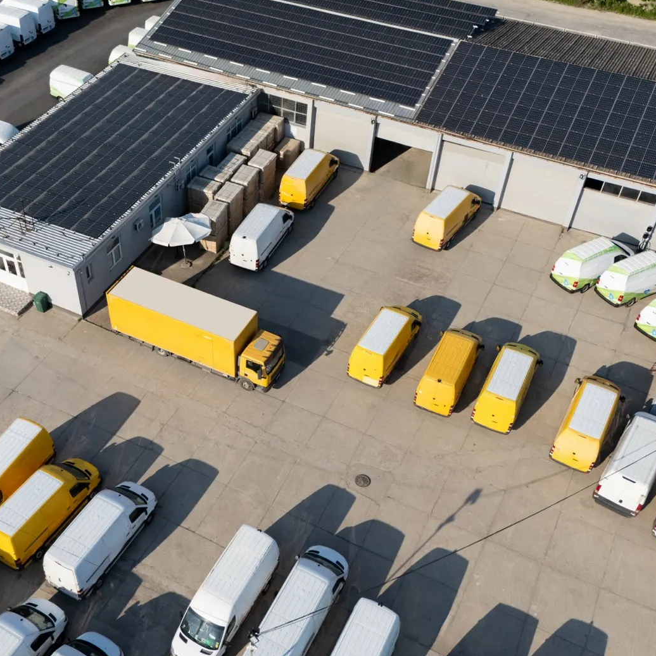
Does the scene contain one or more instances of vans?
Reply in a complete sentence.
Yes, the frame does contain a van.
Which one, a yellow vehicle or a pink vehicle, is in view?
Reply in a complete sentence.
I can see a yellow vehicle in this picture.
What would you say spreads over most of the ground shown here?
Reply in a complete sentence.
Most of the picture is covered by paved ground.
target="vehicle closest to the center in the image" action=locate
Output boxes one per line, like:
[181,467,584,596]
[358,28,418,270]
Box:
[347,303,420,390]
